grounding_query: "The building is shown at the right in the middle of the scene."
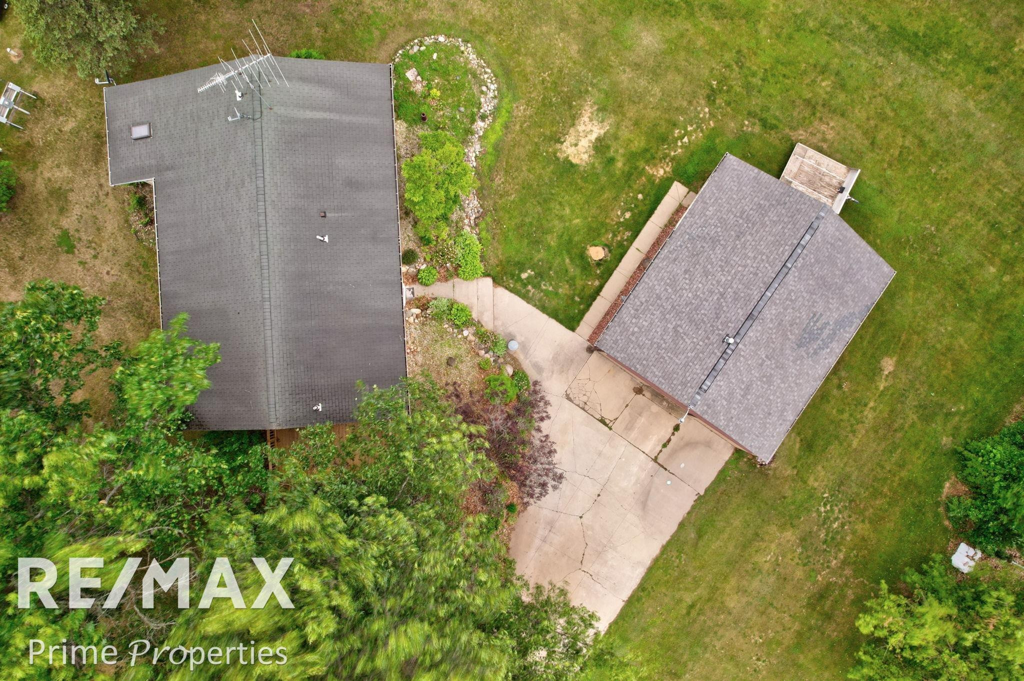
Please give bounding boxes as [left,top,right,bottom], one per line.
[593,154,898,463]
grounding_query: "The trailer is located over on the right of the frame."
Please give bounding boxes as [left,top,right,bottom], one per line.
[780,142,862,215]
